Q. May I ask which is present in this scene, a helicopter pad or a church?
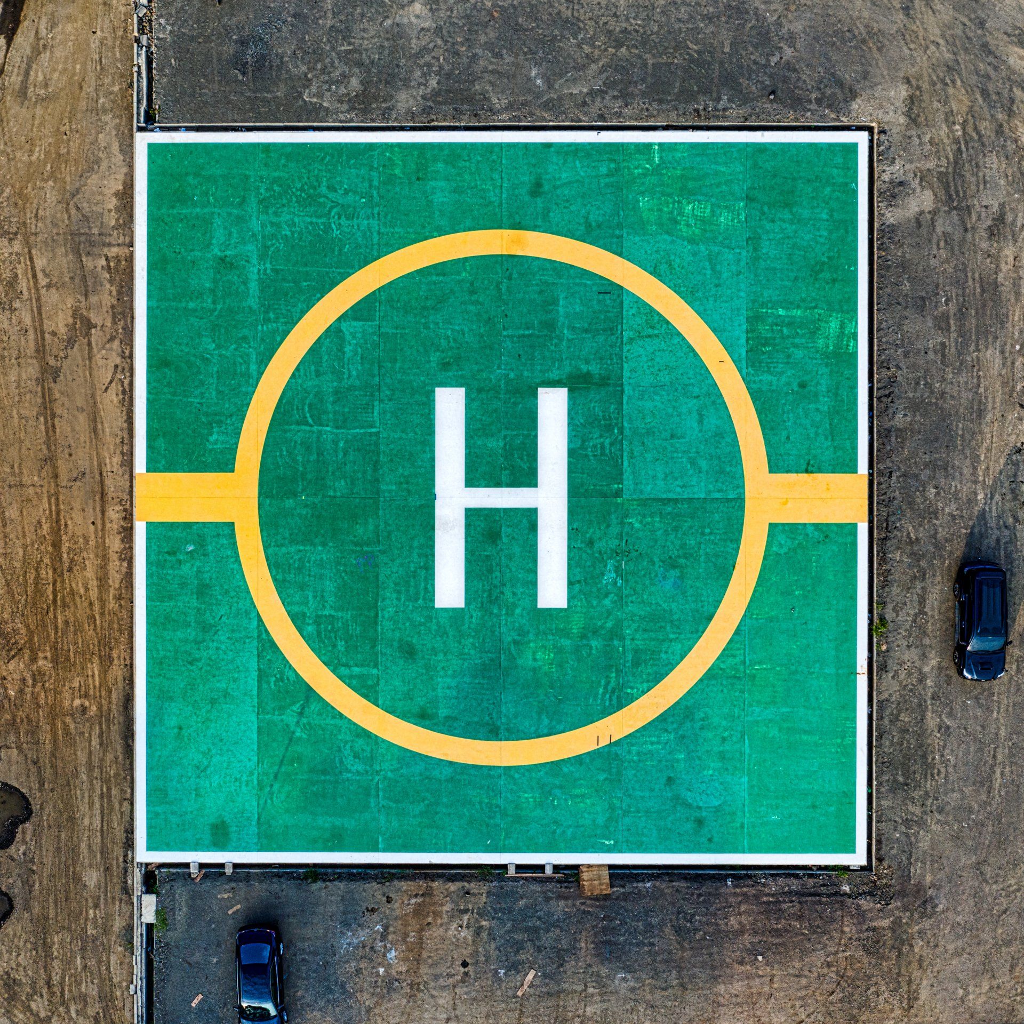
helicopter pad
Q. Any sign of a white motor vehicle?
No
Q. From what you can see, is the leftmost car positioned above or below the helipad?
below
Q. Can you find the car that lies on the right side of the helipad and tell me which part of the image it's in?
right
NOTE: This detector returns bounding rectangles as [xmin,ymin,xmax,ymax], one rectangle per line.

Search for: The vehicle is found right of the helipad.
[952,559,1015,682]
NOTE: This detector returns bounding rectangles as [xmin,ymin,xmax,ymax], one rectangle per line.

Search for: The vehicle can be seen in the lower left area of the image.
[232,923,290,1024]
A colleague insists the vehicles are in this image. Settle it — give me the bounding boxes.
[952,559,1015,682]
[232,923,290,1024]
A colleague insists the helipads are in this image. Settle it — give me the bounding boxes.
[136,131,868,864]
